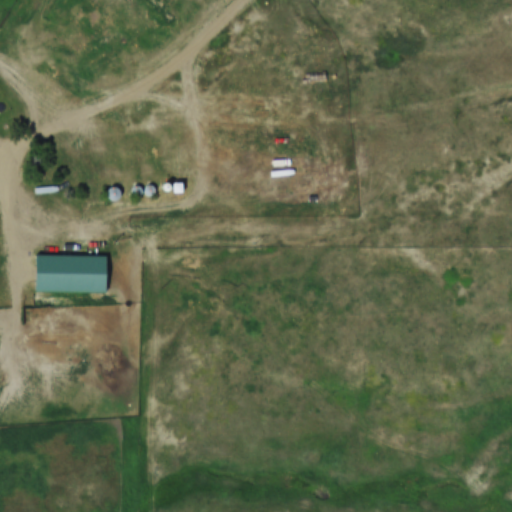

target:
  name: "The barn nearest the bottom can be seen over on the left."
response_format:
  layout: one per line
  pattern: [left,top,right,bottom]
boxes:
[36,255,106,292]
